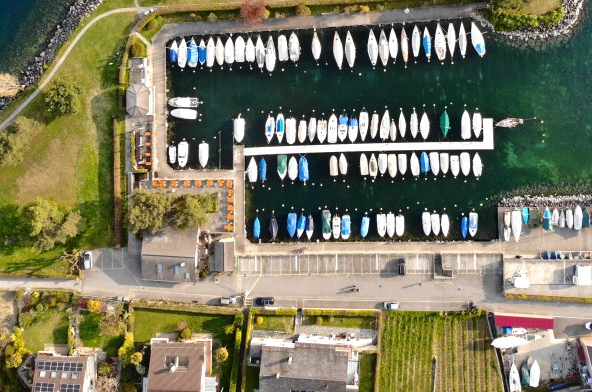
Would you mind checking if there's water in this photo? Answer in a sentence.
Yes, there's water in this view.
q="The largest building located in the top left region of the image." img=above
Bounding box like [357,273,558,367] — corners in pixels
[127,58,155,116]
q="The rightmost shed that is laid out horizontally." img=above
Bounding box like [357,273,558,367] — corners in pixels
[494,312,554,329]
